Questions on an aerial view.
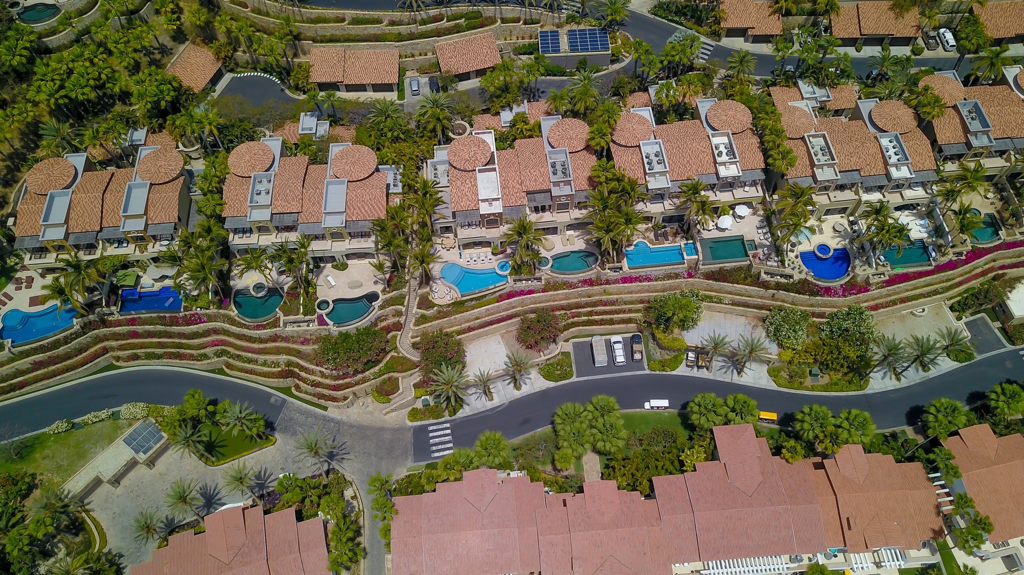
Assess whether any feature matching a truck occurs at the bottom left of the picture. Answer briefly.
No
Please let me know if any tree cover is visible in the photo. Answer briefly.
Yes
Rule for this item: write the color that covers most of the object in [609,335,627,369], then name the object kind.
white car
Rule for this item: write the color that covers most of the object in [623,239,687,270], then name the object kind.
blue swimming pool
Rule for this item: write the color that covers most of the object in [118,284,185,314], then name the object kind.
blue swimming pool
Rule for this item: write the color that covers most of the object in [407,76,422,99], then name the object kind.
gray car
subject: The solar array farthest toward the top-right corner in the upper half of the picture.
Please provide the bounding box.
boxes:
[568,28,609,52]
